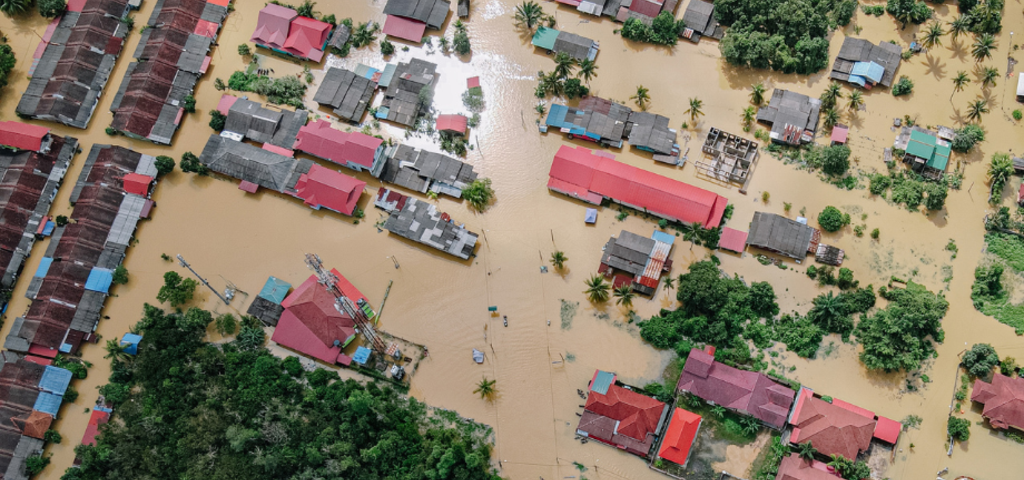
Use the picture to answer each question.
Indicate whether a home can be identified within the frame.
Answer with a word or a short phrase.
Yes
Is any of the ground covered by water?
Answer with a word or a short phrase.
Yes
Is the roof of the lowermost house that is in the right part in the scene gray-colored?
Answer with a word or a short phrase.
No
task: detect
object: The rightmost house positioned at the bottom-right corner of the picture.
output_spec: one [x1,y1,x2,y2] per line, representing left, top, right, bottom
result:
[969,373,1024,437]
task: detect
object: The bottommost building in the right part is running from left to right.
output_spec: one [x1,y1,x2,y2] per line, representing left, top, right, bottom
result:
[777,452,846,480]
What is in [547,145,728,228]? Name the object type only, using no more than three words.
building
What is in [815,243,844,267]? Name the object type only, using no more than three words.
shed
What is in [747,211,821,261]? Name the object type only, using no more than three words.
house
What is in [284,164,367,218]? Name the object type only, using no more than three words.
house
